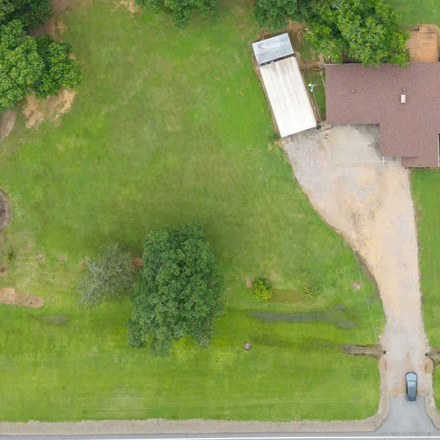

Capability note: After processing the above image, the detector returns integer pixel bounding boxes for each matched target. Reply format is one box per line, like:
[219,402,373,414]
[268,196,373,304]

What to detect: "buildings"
[325,61,440,167]
[252,33,294,65]
[260,56,316,138]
